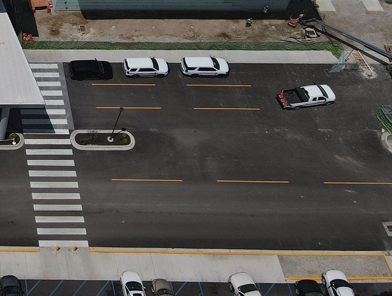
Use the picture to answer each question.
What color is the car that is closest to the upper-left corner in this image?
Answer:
black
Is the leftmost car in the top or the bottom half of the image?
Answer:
bottom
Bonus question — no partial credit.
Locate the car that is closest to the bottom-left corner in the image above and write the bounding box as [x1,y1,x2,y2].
[0,274,23,296]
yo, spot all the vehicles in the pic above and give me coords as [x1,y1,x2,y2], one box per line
[294,279,324,296]
[321,267,362,296]
[0,274,23,296]
[121,57,172,81]
[227,271,257,296]
[276,84,337,112]
[67,59,116,83]
[119,270,145,296]
[151,278,179,296]
[180,56,231,81]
